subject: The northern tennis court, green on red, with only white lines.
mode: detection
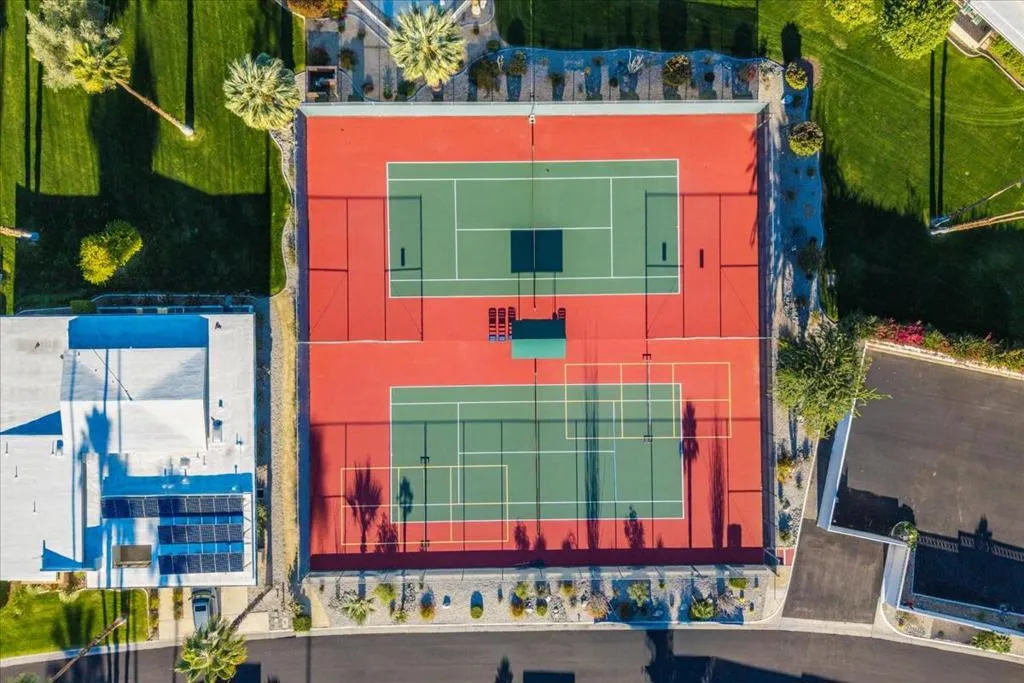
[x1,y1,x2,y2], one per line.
[307,113,761,342]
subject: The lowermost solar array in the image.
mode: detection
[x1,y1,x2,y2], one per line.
[156,553,244,574]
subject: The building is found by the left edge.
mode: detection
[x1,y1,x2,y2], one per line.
[0,313,259,586]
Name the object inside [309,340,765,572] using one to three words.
tennis court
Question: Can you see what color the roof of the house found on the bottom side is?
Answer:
white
